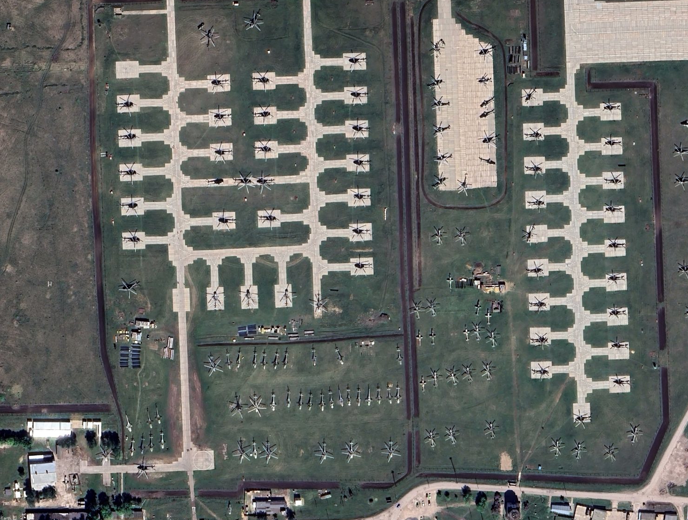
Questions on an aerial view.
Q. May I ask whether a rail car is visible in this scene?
No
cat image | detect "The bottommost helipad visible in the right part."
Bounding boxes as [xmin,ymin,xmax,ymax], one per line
[572,403,590,422]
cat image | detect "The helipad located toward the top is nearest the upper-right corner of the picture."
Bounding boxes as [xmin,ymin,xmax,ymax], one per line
[600,104,622,121]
